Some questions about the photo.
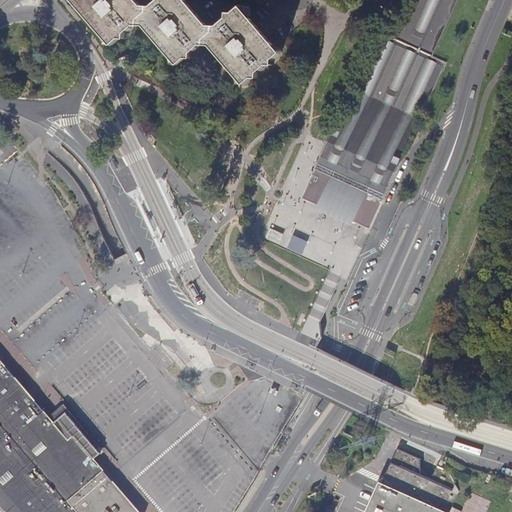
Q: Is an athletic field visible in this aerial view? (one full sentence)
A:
No, I find no athletic field anywhere in the image.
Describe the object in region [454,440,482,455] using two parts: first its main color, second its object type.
white vehicle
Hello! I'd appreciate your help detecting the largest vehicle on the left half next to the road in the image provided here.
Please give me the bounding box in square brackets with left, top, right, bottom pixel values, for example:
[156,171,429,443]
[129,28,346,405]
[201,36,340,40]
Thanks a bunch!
[188,283,202,304]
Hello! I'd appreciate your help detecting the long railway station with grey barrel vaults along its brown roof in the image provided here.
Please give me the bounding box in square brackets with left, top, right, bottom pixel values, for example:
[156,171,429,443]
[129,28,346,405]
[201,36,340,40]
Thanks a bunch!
[303,0,457,232]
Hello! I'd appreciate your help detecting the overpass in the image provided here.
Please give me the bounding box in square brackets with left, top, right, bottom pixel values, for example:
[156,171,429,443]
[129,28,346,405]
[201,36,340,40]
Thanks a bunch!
[302,344,405,429]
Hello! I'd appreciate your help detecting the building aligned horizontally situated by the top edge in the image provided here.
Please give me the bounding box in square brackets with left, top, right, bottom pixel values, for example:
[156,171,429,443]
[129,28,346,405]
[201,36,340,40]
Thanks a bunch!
[66,0,277,85]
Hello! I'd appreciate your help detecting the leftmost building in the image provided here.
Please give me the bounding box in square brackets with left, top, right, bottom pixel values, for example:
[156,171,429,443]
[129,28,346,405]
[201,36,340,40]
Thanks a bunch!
[0,358,140,512]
